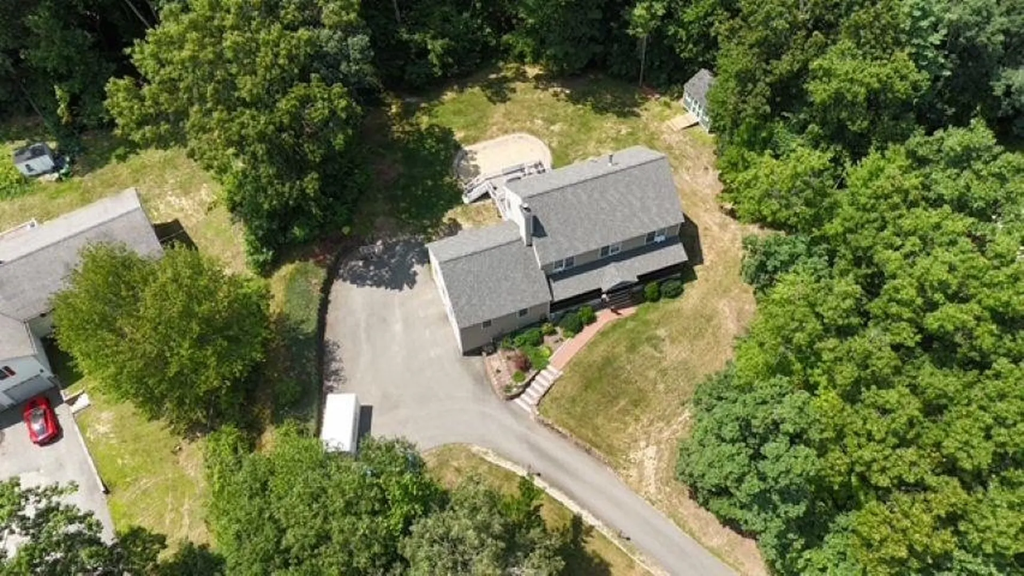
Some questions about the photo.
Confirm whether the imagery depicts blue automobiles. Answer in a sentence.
No, the scene contains no blue automobile.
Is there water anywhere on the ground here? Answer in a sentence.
No, no water is visible.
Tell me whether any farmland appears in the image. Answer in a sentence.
No, there's no farmland in this view.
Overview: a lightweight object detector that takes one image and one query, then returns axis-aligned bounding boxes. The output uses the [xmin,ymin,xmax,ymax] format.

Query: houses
[0,188,163,408]
[426,147,688,353]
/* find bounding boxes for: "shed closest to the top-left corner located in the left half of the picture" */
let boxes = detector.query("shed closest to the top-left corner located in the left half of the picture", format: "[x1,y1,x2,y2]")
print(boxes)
[5,136,54,176]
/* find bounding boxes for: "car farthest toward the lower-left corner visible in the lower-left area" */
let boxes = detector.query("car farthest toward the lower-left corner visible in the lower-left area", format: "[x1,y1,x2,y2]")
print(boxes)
[19,394,59,452]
